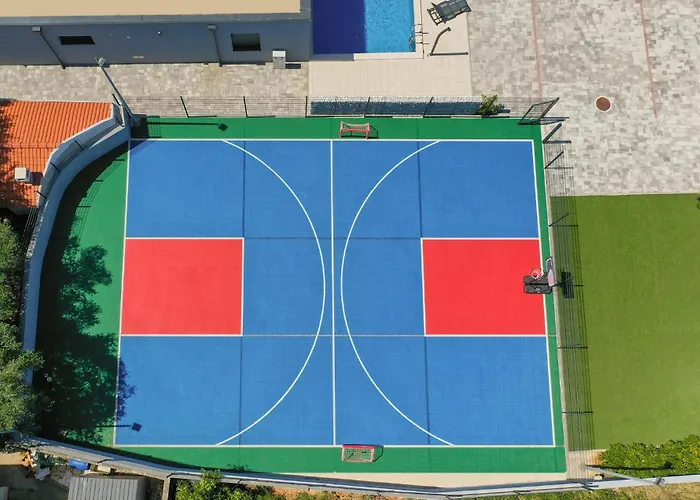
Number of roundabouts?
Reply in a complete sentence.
The count of roundabouts is 0.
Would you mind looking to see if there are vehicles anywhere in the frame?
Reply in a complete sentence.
No, no vehicle can be seen from above.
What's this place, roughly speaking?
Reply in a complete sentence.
This looks like a sports ground.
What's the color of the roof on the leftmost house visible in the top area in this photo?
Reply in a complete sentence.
The roof of the leftmost house visible in the top area is orange.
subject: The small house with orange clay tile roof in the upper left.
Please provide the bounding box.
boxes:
[0,100,110,209]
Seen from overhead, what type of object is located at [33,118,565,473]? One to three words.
sports court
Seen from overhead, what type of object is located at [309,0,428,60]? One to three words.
swimming pool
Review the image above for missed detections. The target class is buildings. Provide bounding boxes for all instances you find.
[66,473,152,500]
[0,0,311,68]
[0,100,110,209]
